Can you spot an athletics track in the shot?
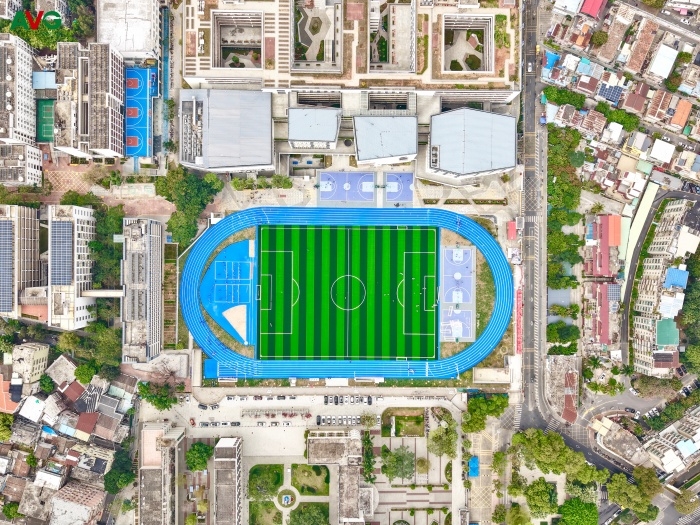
Yes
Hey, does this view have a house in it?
Yes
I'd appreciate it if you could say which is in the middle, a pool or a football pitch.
football pitch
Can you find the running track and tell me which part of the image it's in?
center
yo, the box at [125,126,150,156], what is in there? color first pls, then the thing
blue basketball court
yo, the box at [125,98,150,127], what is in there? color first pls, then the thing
blue basketball court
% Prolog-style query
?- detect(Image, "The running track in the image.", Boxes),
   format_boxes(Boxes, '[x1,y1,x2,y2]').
[181,206,513,380]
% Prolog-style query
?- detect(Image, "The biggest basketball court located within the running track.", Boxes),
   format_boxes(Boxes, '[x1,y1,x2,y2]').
[441,245,476,342]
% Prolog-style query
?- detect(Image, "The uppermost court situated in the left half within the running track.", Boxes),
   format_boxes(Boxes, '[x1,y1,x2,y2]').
[214,261,250,280]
